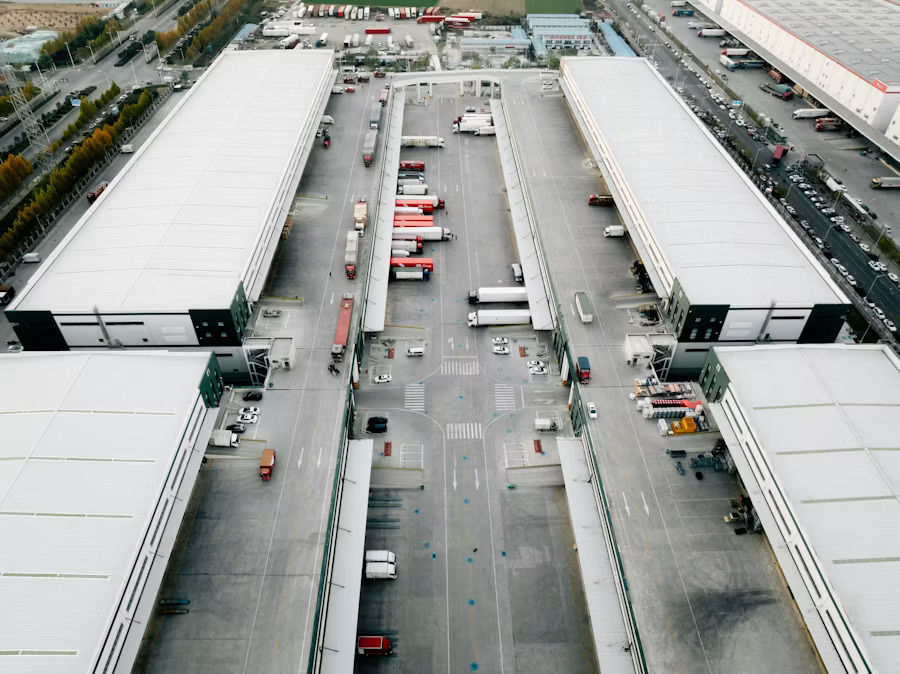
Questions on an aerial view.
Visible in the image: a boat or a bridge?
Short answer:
bridge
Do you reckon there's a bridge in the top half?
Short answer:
Yes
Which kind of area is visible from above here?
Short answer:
industrial area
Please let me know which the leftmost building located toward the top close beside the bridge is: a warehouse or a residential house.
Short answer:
warehouse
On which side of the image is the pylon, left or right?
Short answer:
left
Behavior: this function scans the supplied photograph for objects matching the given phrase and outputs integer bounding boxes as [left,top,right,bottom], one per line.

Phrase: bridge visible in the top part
[339,69,552,101]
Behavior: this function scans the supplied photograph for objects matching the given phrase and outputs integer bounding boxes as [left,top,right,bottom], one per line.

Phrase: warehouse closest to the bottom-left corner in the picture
[0,350,223,674]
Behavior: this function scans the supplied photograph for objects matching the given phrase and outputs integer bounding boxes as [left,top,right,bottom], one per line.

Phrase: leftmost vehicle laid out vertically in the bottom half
[258,446,278,479]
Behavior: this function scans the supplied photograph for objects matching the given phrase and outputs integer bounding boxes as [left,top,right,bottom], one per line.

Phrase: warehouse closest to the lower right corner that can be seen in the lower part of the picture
[699,344,900,674]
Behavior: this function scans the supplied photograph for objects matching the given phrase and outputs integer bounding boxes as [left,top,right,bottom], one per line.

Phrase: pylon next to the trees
[0,36,56,175]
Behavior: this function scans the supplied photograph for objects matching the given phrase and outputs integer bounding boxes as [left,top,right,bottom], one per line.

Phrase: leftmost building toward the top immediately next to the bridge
[4,51,343,375]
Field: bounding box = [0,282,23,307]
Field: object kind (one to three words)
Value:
truck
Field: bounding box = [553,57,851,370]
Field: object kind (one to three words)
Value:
warehouse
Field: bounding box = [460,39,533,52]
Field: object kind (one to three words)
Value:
building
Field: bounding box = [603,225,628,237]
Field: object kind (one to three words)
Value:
vehicle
